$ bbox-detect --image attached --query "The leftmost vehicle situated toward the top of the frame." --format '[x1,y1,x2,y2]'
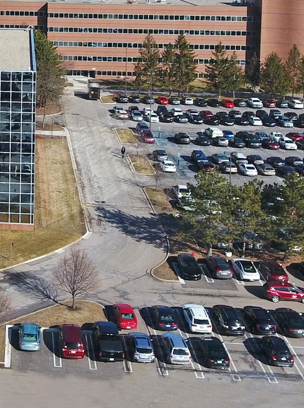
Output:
[87,81,101,99]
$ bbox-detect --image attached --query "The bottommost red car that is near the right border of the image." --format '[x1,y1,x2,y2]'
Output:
[261,277,304,302]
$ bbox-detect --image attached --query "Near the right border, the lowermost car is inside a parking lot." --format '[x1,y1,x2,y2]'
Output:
[255,335,292,375]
